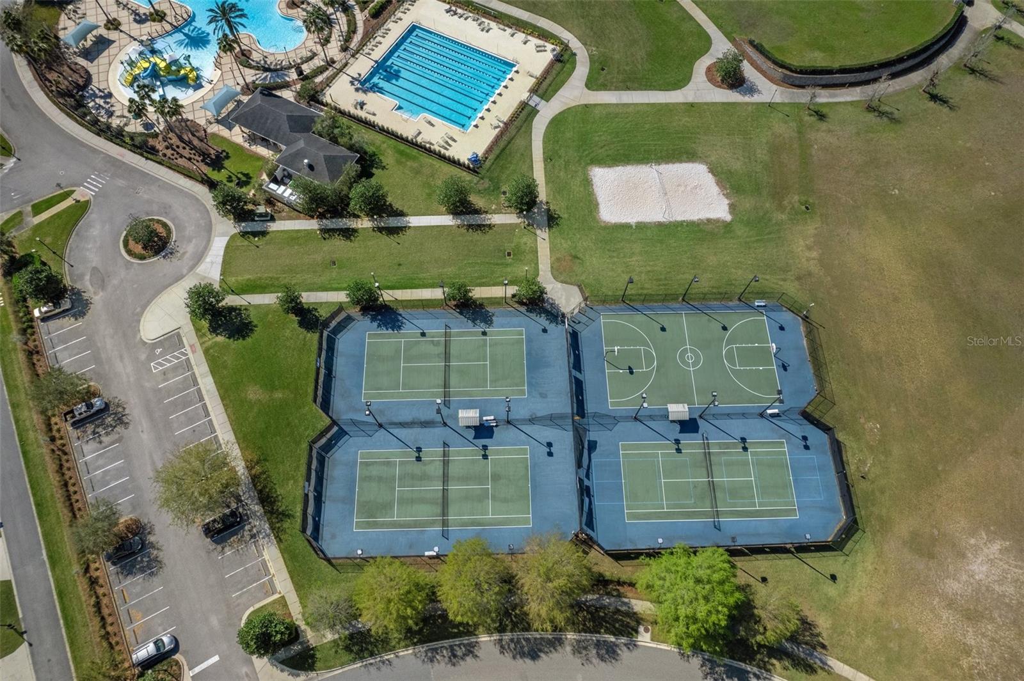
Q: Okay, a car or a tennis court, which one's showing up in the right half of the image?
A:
tennis court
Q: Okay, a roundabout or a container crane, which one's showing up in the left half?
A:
roundabout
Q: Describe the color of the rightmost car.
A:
black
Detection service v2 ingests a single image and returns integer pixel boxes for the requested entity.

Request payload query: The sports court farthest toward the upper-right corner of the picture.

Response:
[589,162,733,225]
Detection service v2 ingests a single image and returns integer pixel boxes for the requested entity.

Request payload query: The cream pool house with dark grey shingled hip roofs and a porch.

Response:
[229,87,359,189]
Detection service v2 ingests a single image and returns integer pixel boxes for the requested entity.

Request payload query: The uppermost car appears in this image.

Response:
[35,299,70,319]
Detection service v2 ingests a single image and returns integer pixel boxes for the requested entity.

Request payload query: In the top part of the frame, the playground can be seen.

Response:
[115,25,216,104]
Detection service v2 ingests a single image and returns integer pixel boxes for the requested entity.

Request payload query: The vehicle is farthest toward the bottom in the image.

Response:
[131,635,176,668]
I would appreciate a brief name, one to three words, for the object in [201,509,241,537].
car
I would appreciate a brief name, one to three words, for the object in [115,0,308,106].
swimming pool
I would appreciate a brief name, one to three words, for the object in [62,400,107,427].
truck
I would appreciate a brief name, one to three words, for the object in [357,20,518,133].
swimming pool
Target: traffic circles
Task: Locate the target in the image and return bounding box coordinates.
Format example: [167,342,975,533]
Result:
[120,215,177,263]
